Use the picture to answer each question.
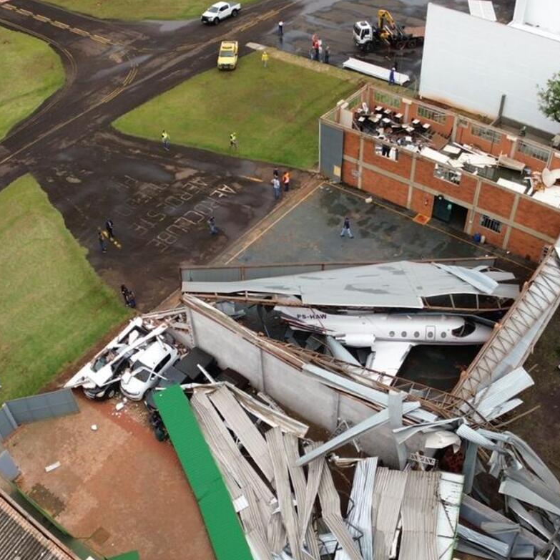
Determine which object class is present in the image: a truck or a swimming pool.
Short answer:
truck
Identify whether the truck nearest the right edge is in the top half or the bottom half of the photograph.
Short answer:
top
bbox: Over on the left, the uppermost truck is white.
[198,1,241,26]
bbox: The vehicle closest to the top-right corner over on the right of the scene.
[350,0,426,51]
